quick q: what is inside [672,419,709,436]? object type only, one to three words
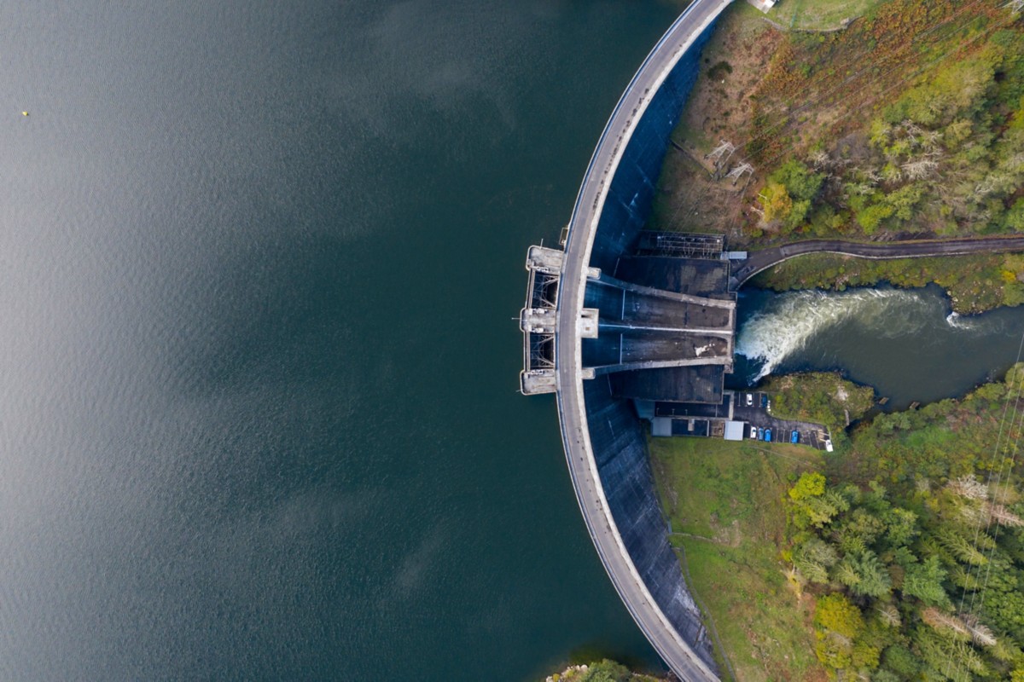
building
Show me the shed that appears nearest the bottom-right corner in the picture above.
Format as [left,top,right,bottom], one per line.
[722,421,749,440]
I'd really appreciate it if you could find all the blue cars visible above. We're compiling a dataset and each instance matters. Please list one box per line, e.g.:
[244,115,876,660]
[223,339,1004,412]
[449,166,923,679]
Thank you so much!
[792,431,797,443]
[765,429,771,441]
[758,428,764,440]
[761,394,767,406]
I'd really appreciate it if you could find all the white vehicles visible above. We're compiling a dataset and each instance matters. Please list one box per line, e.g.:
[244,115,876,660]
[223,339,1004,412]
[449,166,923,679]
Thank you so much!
[747,393,752,405]
[825,439,834,453]
[750,426,756,439]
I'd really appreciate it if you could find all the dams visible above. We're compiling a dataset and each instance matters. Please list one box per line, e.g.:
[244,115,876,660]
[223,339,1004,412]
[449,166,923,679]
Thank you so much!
[512,0,739,682]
